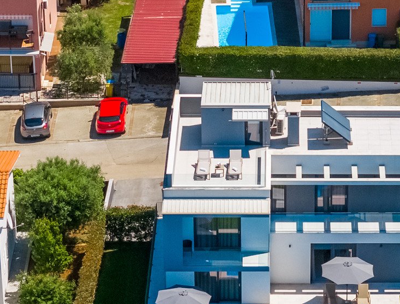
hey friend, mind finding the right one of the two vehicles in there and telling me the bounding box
[94,96,129,132]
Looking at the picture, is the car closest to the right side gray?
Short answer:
No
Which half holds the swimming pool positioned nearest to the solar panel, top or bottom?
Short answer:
top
